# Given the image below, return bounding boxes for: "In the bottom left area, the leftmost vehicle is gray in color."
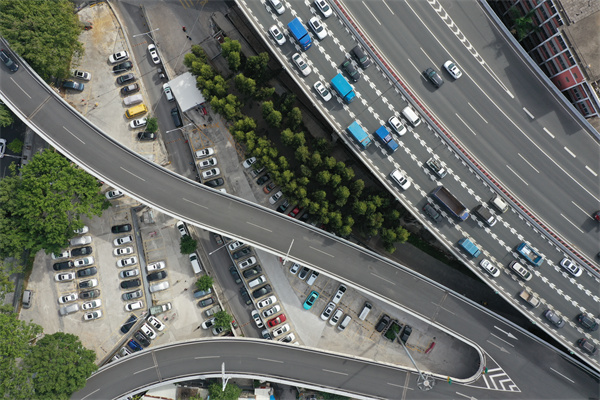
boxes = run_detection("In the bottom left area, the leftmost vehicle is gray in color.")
[22,289,35,308]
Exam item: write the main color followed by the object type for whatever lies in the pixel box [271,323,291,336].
white vehicle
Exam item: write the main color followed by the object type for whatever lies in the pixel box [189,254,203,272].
white vehicle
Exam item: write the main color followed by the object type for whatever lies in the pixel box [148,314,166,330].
white car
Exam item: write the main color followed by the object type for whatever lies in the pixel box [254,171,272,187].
black car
